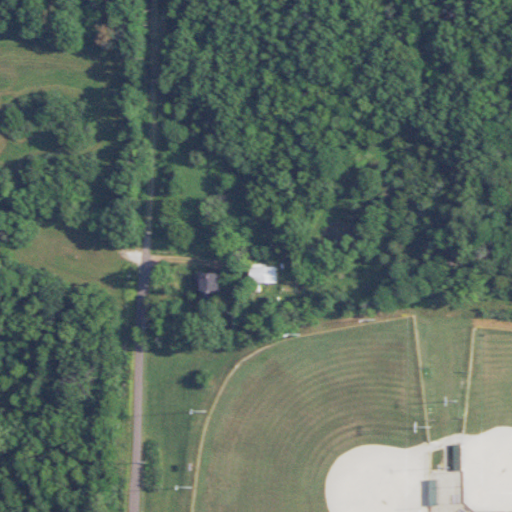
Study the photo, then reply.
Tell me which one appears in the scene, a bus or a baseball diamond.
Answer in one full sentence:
It is a baseball diamond that can be seen here.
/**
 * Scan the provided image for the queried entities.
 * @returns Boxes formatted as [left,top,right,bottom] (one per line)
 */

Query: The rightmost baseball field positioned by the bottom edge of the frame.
[460,319,512,512]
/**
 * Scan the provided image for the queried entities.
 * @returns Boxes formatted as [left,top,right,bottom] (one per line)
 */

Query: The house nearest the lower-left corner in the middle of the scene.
[198,273,220,294]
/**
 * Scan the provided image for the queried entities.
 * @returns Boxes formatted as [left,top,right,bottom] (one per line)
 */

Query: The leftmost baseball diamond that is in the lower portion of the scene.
[192,314,433,512]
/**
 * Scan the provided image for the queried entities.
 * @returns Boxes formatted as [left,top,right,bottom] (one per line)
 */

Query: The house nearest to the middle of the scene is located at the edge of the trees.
[249,264,278,284]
